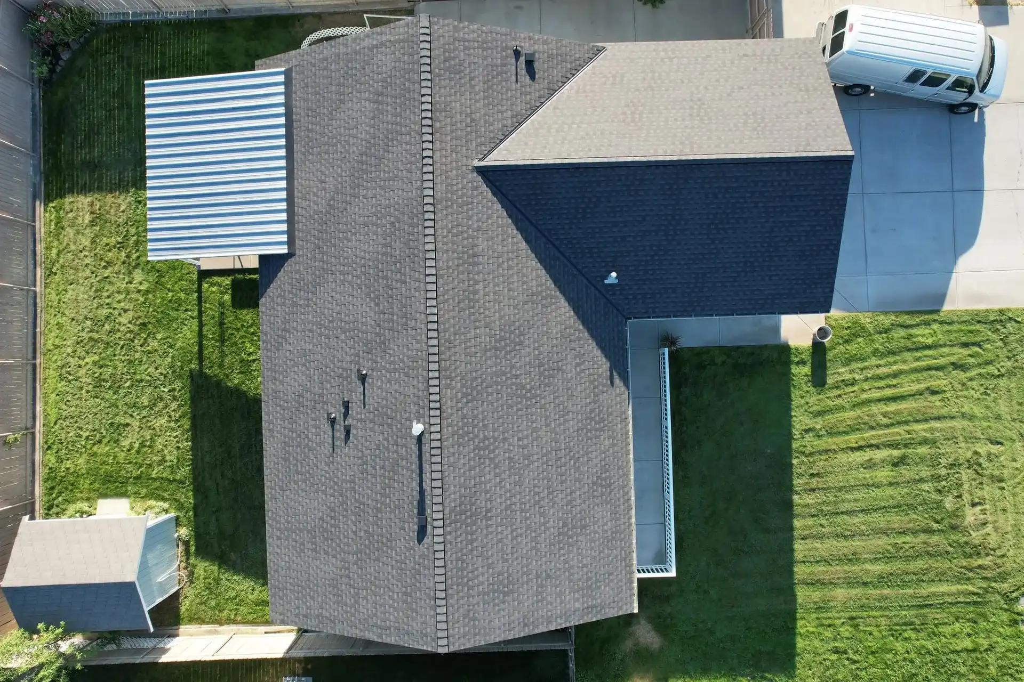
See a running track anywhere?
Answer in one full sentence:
No, no running track is visible in the scene.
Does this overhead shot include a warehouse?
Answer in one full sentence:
No, the picture doesn't show any warehouse.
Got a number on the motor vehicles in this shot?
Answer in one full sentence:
The photo contains exactly 1 motor vehicle.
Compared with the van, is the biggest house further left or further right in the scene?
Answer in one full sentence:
In the image, the biggest house sits on the left side of the van.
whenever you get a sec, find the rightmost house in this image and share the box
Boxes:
[253,15,858,655]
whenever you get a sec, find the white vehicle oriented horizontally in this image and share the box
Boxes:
[814,4,1008,115]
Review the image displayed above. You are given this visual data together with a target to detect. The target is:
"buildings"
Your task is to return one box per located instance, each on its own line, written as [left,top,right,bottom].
[2,511,179,637]
[253,15,858,655]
